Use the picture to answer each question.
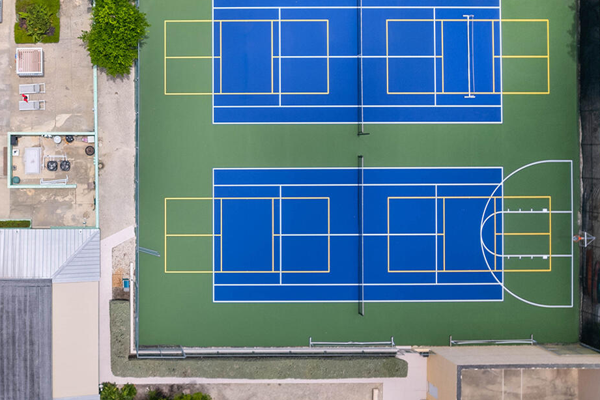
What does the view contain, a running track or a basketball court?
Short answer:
basketball court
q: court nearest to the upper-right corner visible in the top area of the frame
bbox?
[387,19,550,94]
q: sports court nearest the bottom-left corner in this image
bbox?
[165,197,330,273]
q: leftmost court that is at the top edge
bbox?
[165,19,330,94]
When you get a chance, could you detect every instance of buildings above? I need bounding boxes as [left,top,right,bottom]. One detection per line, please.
[0,228,101,400]
[428,348,600,400]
